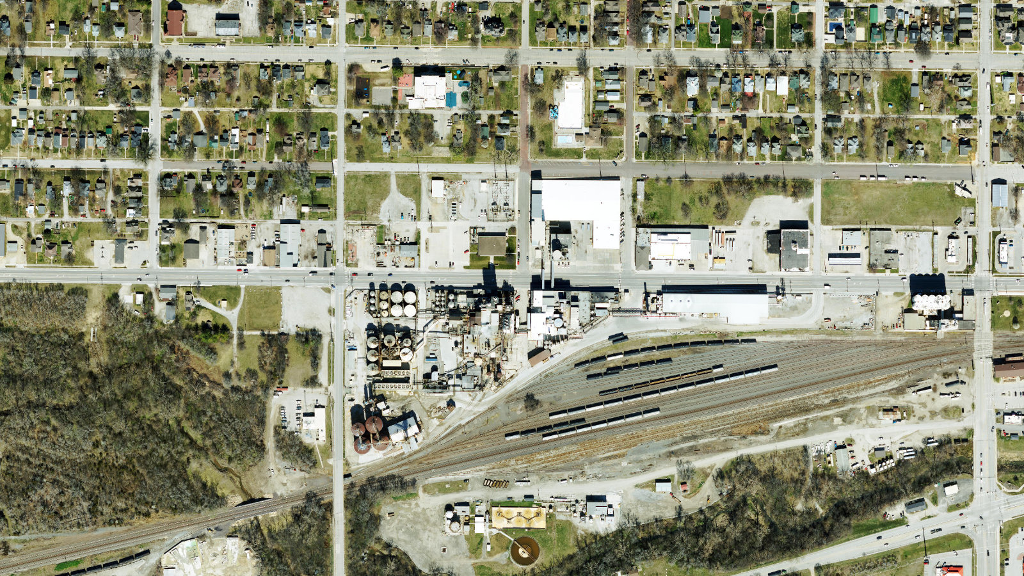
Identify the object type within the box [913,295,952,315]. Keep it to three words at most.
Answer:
silo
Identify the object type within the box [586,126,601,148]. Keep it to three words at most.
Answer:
house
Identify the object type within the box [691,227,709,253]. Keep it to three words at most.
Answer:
shed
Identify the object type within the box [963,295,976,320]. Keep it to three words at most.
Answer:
building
